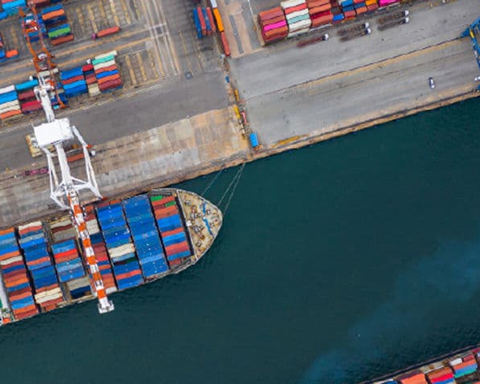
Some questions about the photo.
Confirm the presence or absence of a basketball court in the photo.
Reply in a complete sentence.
No, the picture doesn't show any basketball court.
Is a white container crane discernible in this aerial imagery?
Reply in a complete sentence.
Yes, a white container crane can be made out from above.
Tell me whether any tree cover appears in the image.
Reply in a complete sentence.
No, there is no tree cover in the image.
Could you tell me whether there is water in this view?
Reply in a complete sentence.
Yes, there's water in this view.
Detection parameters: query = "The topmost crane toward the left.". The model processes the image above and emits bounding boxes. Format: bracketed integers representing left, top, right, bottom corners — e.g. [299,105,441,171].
[18,3,56,62]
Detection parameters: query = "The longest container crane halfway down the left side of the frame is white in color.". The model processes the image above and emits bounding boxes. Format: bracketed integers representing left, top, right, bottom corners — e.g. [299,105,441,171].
[35,75,119,313]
